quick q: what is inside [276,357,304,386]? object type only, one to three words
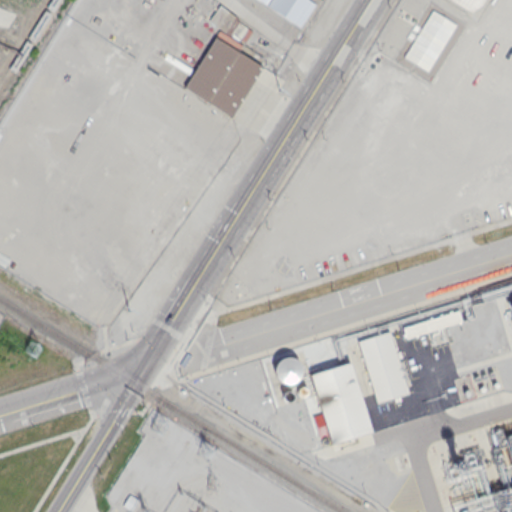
storage tank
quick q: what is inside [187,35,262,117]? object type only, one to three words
building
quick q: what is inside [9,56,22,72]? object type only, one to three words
rail car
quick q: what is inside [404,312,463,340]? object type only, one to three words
shed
